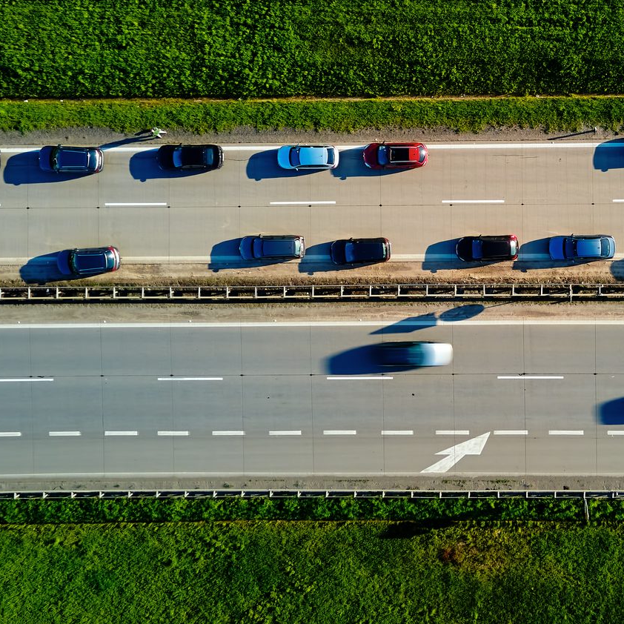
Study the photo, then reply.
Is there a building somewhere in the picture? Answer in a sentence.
No, no building can be seen from above.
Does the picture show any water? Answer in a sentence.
No, there's no water in this view.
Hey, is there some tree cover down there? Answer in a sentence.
No, the picture contains no tree cover.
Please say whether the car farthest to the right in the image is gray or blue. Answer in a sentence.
The car farthest to the right is blue.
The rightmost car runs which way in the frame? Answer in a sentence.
The rightmost car runs from side to side in the image.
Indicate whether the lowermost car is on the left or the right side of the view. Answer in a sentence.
The lowermost car sits on the right side.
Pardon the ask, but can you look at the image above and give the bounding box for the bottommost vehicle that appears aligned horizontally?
[383,339,453,370]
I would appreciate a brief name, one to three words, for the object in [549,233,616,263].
car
